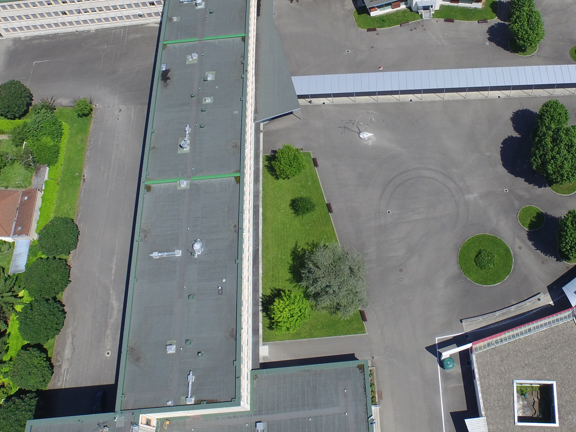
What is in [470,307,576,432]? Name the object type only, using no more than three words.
building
